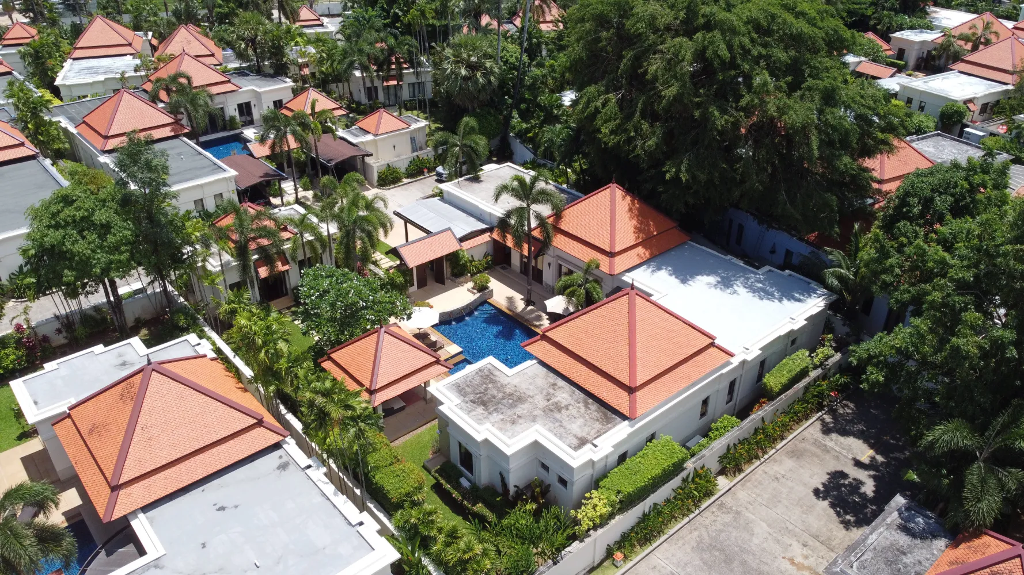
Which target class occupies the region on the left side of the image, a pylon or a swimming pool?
swimming pool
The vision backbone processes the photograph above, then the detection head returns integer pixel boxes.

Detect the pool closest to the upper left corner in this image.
[195,130,256,159]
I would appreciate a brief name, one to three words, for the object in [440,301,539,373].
swimming pool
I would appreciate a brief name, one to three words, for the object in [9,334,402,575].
house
